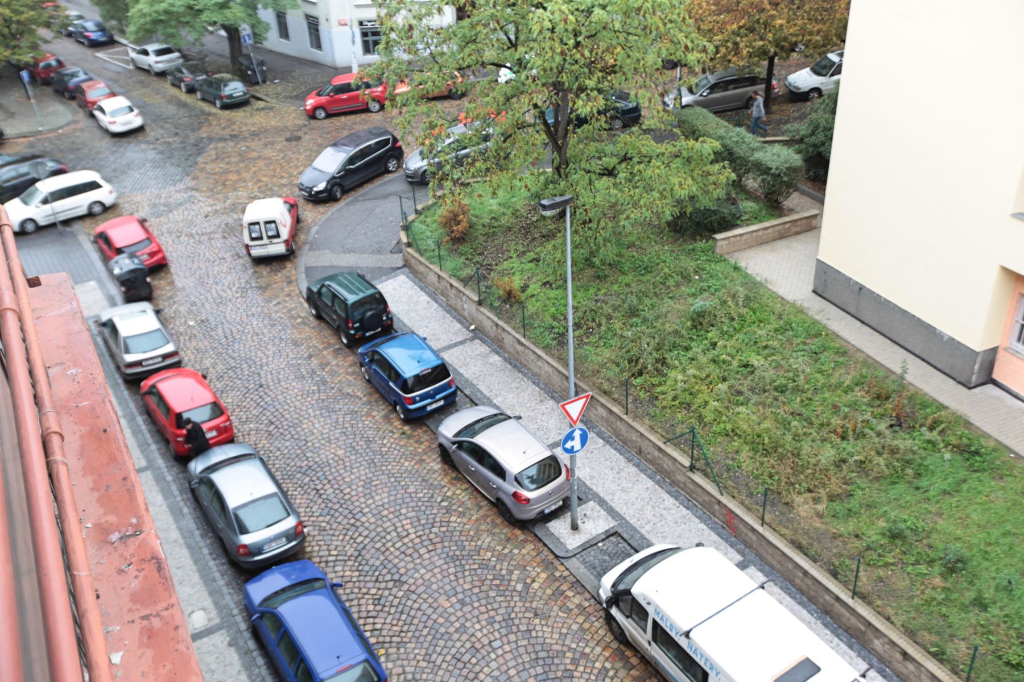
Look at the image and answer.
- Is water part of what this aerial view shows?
No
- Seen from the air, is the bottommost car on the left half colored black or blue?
blue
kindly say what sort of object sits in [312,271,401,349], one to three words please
car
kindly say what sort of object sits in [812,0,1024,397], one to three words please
building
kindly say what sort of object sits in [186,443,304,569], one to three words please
car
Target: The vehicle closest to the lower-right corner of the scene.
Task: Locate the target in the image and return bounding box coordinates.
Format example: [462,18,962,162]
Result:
[602,546,868,682]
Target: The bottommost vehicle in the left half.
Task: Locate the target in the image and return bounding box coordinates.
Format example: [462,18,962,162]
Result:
[250,560,392,682]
